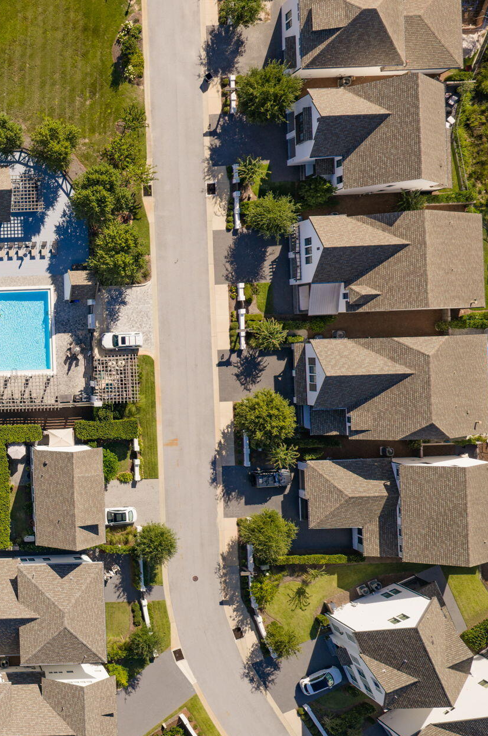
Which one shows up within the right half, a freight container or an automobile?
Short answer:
automobile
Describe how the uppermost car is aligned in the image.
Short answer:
horizontally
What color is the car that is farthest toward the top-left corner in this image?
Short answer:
white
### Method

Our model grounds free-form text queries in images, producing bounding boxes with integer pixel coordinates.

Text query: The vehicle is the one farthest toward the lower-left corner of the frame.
[105,507,135,527]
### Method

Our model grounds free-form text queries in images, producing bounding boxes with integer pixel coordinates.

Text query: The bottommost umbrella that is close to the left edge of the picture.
[9,444,28,463]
